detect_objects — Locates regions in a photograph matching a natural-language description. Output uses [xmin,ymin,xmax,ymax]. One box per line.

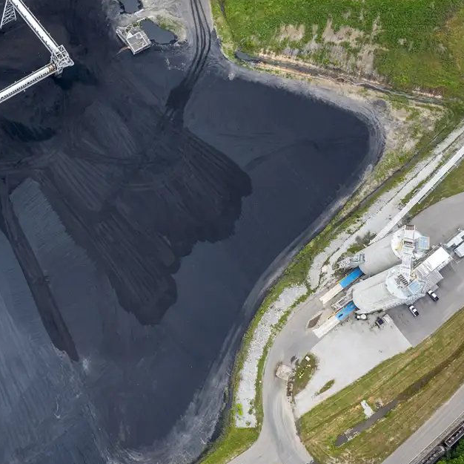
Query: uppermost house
[115,28,152,55]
